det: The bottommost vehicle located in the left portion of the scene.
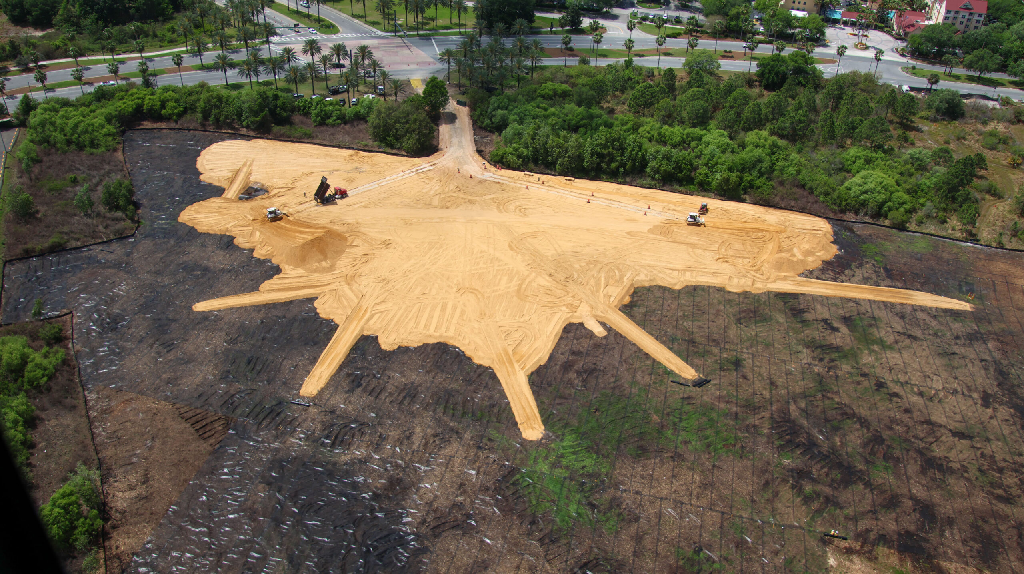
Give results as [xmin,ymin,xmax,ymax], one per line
[265,206,286,221]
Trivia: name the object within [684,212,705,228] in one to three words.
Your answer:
work vehicle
